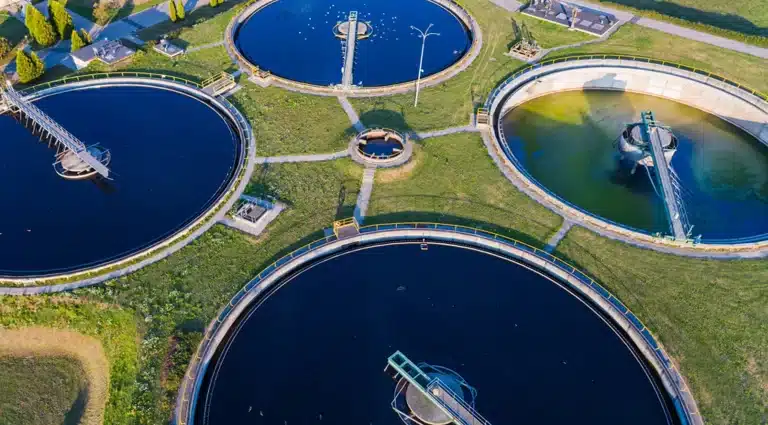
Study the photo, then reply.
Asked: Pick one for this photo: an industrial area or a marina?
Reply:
industrial area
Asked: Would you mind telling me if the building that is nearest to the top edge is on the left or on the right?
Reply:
right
